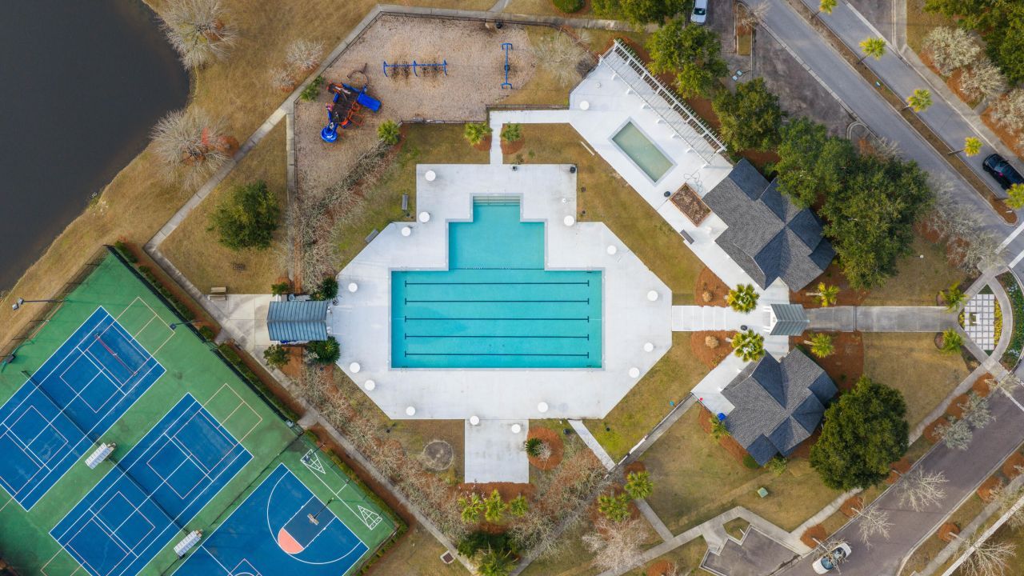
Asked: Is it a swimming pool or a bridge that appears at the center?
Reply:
swimming pool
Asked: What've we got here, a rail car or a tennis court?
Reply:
tennis court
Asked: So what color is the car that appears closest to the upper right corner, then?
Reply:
black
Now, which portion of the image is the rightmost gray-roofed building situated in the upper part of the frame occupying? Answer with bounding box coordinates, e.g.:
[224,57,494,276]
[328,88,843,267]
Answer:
[702,159,833,292]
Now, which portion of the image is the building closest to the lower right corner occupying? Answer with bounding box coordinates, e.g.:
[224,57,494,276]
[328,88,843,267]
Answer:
[721,348,838,466]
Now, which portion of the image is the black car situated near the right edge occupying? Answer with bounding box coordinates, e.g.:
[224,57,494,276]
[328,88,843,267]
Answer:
[987,156,1024,192]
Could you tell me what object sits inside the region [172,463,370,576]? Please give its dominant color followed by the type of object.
blue basketball court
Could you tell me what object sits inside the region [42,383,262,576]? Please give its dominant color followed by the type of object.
blue tennis court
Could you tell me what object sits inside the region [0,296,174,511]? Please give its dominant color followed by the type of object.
blue tennis court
